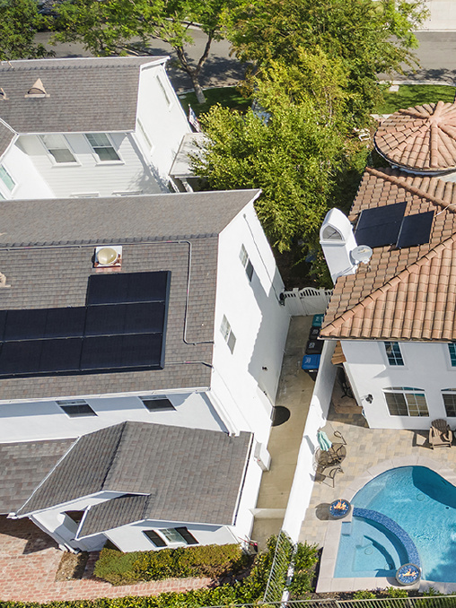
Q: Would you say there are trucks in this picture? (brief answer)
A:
No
